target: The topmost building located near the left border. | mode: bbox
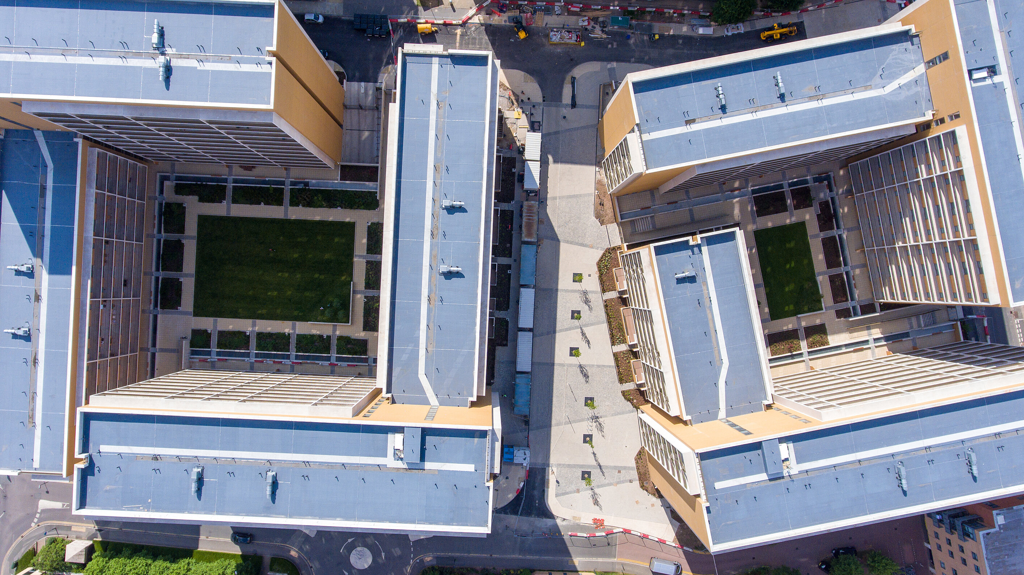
[0,0,350,169]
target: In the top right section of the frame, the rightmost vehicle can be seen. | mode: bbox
[760,21,794,44]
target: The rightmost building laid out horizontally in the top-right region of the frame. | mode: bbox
[595,21,934,200]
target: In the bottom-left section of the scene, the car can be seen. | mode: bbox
[232,531,254,544]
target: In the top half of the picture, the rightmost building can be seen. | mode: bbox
[845,0,1024,308]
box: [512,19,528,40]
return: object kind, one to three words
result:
vehicle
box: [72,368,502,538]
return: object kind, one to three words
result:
building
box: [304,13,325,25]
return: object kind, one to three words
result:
vehicle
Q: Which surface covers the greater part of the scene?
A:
buildings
